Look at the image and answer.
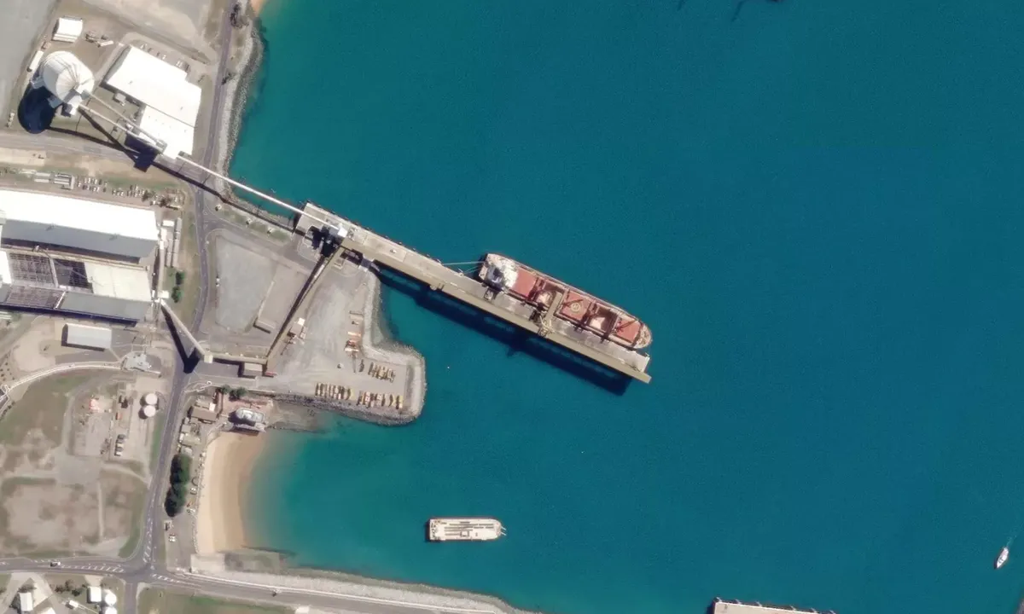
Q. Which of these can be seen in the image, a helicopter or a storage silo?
storage silo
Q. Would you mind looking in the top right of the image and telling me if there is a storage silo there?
No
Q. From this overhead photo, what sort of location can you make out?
port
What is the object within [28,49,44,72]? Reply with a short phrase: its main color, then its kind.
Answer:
white vehicle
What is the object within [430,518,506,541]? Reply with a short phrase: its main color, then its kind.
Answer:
white ship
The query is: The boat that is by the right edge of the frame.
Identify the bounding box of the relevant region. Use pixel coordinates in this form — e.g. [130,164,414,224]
[997,548,1009,569]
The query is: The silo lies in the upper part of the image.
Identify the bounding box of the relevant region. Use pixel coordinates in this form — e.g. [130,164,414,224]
[42,51,93,104]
